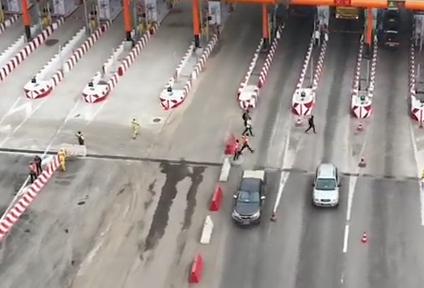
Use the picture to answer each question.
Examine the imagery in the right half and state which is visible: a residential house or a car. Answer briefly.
car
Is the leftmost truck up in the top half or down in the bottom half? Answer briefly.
bottom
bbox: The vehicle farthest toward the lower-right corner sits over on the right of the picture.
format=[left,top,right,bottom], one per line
[312,155,344,203]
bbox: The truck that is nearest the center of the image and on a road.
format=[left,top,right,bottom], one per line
[236,162,273,217]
